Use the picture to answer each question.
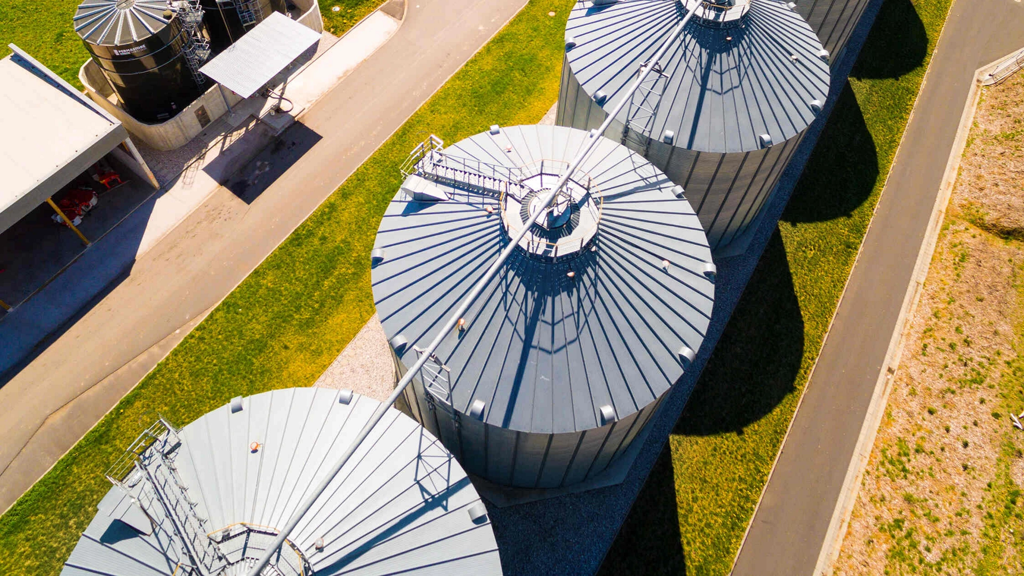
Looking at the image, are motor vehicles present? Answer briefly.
No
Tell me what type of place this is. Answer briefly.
industrial area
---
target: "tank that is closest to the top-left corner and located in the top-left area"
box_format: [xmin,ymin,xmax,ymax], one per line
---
[72,0,216,125]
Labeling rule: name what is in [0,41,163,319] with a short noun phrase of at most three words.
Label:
shed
